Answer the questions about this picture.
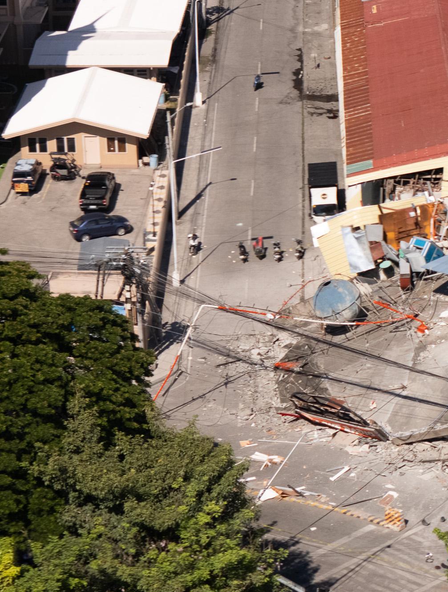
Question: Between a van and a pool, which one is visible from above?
van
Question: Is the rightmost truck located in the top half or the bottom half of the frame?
top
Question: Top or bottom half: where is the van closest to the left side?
top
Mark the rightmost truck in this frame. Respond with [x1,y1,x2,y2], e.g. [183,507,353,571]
[306,175,339,225]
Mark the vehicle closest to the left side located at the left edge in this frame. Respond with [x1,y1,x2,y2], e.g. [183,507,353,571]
[5,156,48,190]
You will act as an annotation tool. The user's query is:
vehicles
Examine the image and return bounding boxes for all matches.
[293,240,306,260]
[271,244,284,264]
[251,73,262,90]
[5,156,48,190]
[238,243,251,264]
[67,206,135,234]
[186,236,199,256]
[306,175,339,225]
[75,168,122,205]
[48,147,77,181]
[252,240,266,261]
